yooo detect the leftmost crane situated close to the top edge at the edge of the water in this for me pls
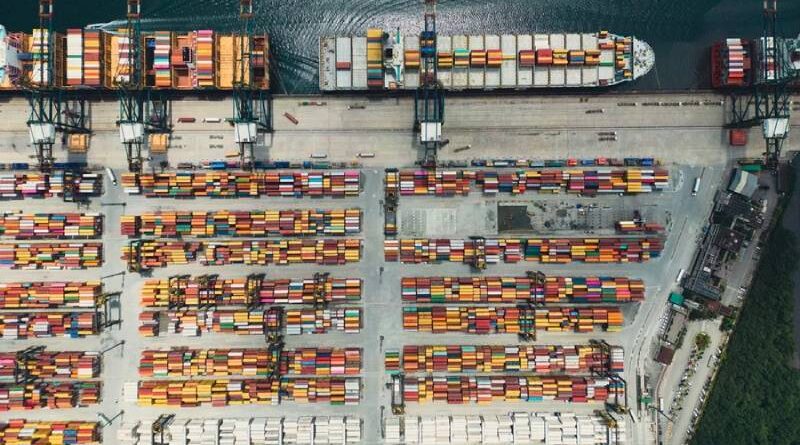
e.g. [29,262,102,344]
[16,0,93,169]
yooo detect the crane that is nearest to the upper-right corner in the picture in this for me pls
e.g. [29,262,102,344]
[717,0,796,163]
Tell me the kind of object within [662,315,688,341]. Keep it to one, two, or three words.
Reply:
building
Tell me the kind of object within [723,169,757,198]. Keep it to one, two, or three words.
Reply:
building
